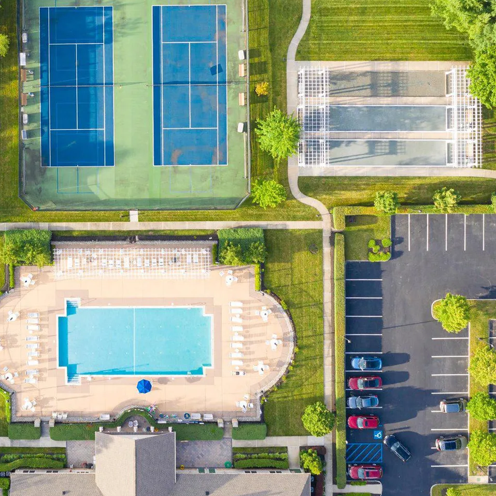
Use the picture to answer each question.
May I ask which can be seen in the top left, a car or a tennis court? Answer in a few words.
tennis court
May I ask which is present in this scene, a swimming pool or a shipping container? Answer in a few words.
swimming pool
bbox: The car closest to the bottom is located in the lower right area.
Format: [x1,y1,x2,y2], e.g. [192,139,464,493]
[348,465,383,482]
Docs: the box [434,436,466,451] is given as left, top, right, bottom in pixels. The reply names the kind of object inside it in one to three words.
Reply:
car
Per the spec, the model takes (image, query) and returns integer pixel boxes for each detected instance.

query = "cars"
[347,414,380,430]
[383,432,412,465]
[348,465,383,482]
[437,399,467,414]
[348,376,381,392]
[351,356,382,371]
[347,395,379,410]
[434,436,466,451]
